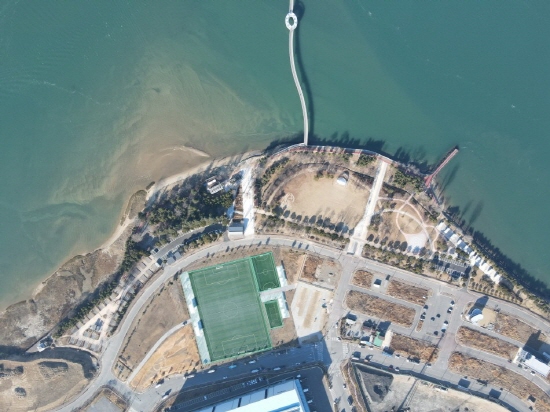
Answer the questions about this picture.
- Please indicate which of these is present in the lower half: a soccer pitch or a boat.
soccer pitch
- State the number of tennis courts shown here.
0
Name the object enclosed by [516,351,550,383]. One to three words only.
building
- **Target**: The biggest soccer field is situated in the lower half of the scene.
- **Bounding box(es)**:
[189,258,271,363]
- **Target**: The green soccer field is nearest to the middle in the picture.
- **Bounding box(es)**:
[251,252,280,291]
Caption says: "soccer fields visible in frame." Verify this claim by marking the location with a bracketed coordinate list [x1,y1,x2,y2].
[189,258,271,363]
[265,300,284,329]
[251,252,280,291]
